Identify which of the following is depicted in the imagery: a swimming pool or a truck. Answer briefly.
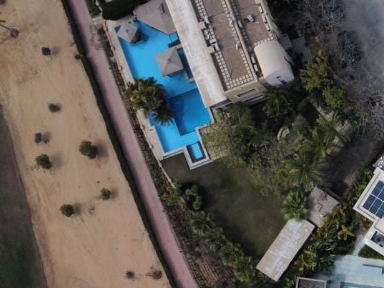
swimming pool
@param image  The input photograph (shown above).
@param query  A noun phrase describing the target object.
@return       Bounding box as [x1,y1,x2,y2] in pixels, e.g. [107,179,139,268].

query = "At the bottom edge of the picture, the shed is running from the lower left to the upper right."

[256,219,319,281]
